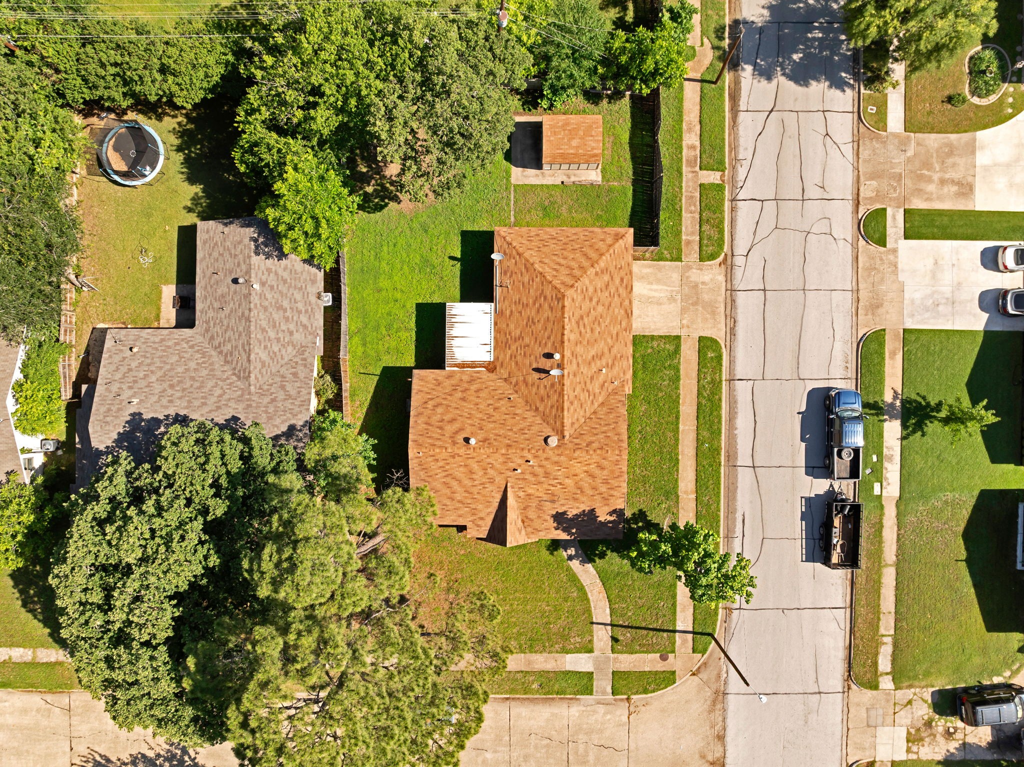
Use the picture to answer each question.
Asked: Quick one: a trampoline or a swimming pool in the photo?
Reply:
trampoline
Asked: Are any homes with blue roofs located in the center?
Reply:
No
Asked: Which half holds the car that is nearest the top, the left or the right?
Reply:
right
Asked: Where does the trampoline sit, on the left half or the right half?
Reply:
left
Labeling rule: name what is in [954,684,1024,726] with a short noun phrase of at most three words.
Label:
car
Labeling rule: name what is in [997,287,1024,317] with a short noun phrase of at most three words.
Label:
car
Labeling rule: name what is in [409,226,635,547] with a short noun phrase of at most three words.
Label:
house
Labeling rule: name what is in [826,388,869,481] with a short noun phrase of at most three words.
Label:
truck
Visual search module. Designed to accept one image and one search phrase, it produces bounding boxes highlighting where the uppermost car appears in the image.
[995,245,1024,274]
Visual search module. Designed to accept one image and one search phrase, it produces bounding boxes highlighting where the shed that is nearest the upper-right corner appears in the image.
[542,114,602,170]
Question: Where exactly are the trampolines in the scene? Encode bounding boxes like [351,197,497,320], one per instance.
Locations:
[95,117,168,187]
